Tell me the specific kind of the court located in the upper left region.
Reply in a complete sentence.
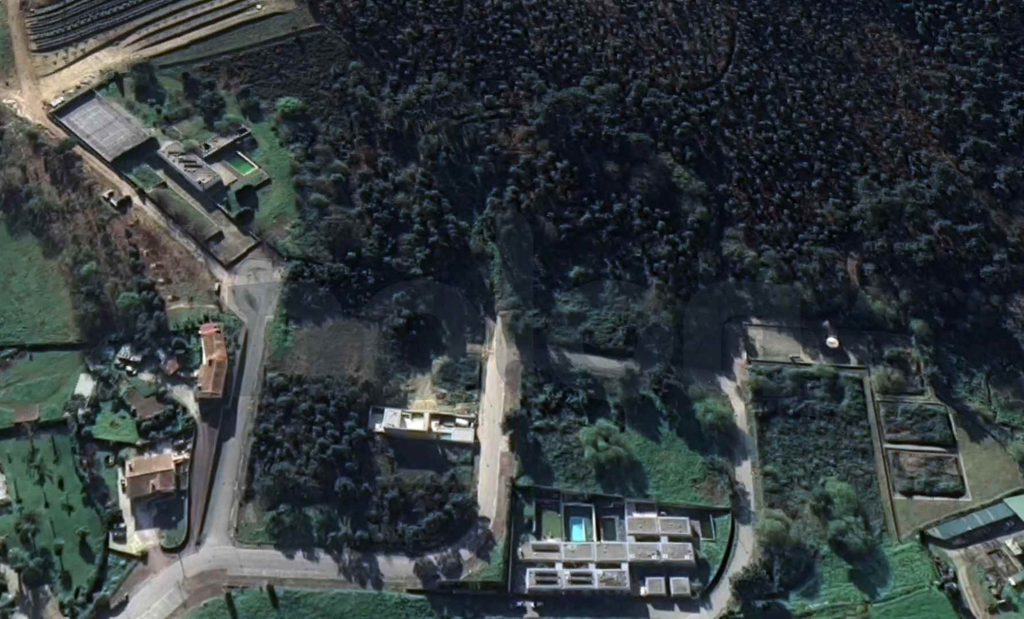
The court located in the upper left region can be classified as a tennis court.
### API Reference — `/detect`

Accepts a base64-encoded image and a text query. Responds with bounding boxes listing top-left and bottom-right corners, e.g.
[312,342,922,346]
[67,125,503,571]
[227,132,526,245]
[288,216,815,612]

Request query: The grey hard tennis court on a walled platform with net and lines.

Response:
[57,92,151,164]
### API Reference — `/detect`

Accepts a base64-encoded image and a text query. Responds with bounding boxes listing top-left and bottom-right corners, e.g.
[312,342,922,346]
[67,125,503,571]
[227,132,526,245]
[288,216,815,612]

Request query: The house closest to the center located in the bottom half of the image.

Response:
[368,407,477,447]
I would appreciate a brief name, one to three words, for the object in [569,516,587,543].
swimming pool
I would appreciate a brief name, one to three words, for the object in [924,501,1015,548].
building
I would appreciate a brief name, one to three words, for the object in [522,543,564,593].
house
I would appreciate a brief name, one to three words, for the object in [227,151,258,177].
swimming pool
